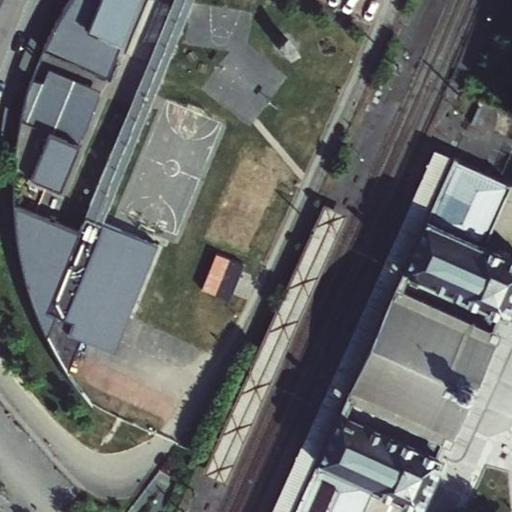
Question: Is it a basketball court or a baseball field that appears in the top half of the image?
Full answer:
The one visible in the top half of the image is a basketball court.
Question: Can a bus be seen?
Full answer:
No, there appears to be no bus in this shot.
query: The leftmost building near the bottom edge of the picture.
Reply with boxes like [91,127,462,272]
[131,470,170,512]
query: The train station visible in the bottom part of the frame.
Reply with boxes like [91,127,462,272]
[301,162,512,512]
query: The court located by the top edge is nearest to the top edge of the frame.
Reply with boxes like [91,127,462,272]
[184,4,287,124]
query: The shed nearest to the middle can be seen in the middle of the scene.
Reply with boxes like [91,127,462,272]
[202,255,240,298]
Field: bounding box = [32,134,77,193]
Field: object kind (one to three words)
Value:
building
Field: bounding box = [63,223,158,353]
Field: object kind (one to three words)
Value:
building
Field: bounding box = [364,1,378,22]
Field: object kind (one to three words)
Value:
car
